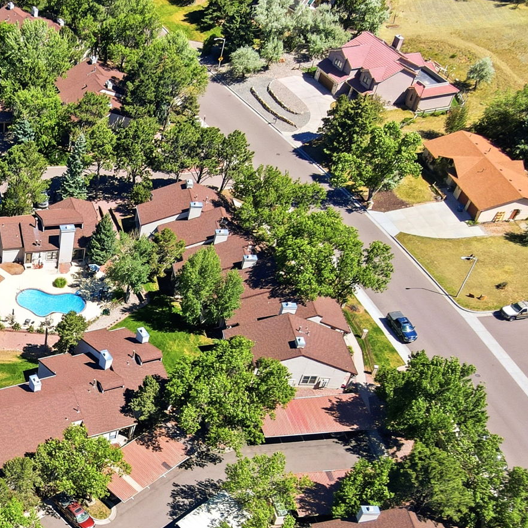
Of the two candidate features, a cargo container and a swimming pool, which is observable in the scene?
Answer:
swimming pool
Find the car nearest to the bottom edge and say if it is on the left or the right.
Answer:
left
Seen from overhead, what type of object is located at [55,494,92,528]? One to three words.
car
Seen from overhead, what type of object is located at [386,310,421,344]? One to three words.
truck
